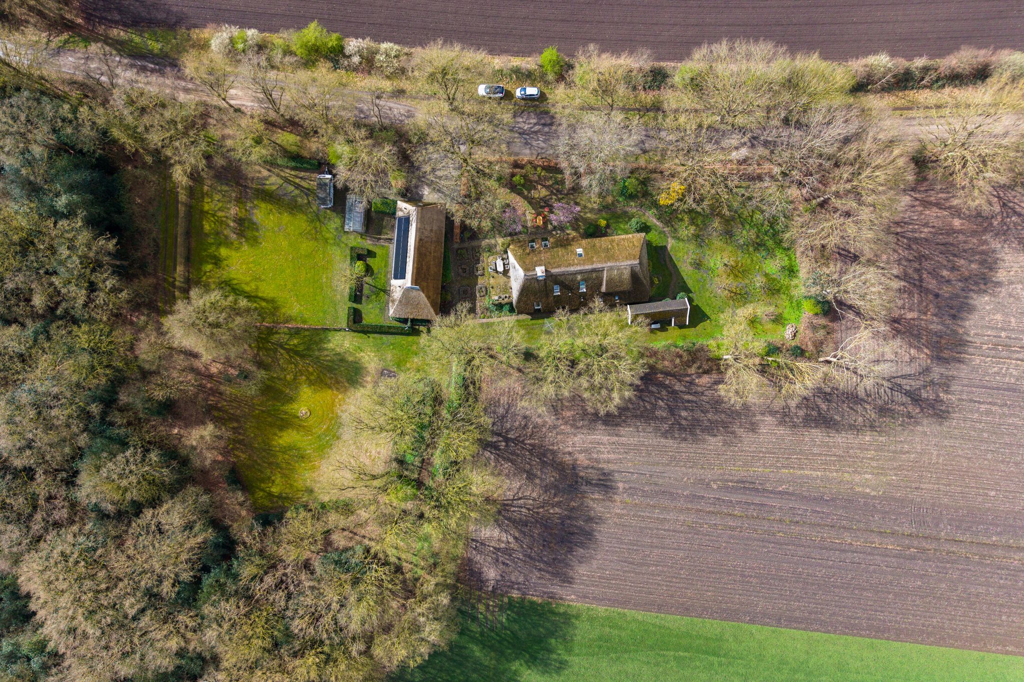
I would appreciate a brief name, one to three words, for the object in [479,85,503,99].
car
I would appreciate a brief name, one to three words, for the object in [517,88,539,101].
vehicle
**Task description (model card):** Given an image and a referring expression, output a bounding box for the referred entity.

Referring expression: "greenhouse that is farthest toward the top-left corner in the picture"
[344,195,369,234]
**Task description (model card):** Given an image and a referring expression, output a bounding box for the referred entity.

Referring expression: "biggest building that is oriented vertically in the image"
[390,201,446,318]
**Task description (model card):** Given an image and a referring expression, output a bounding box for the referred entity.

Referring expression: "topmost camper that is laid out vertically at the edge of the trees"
[317,169,334,208]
